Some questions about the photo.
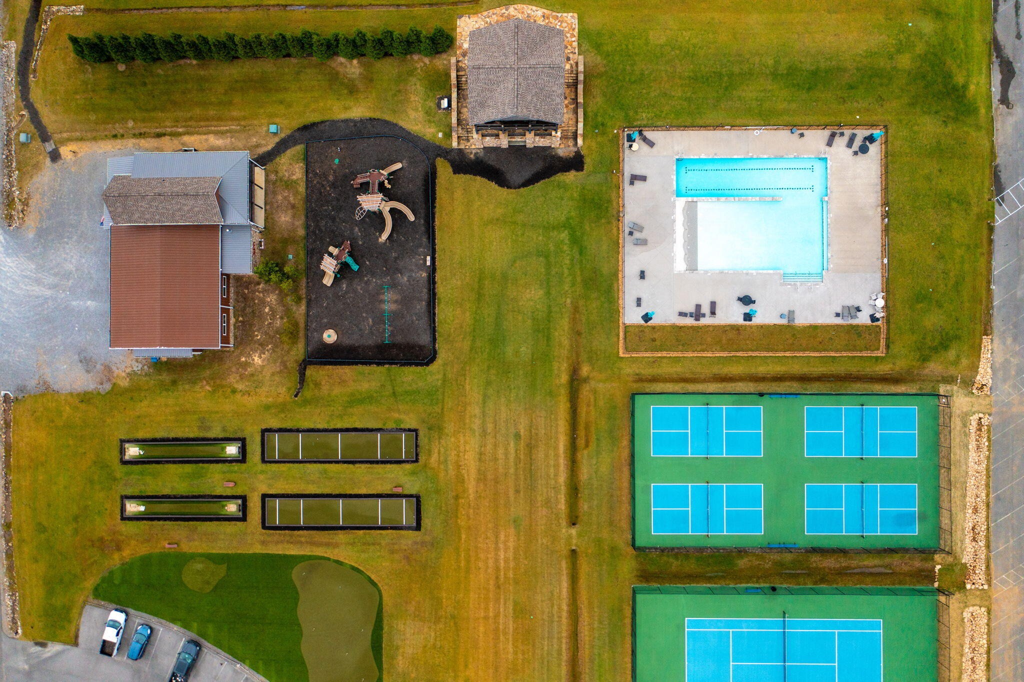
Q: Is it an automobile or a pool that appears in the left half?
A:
automobile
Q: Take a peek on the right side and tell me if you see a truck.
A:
No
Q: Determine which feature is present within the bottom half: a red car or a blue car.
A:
blue car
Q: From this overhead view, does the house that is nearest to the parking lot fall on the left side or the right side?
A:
left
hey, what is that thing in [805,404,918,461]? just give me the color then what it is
blue sports court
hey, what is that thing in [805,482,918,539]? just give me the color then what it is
blue sports court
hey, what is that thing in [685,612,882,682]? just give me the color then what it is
blue tennis court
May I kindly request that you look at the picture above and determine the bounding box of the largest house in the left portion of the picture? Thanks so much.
[101,148,265,358]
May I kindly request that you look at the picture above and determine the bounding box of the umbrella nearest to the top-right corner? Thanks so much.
[865,130,888,145]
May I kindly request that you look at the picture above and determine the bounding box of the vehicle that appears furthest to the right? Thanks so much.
[169,636,203,682]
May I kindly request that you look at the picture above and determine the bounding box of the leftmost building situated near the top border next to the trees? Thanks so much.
[451,5,584,148]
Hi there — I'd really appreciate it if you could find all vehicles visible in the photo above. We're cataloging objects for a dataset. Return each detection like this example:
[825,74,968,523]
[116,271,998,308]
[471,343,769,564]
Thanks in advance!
[127,621,155,661]
[169,636,203,682]
[98,605,131,658]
